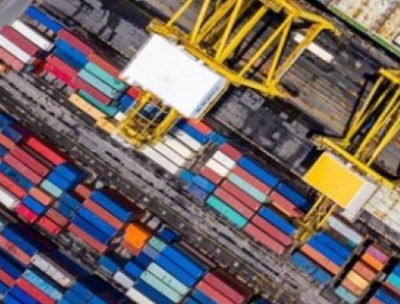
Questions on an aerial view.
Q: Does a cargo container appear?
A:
Yes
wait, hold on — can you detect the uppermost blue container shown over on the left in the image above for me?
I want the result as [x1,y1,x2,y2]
[25,6,62,38]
